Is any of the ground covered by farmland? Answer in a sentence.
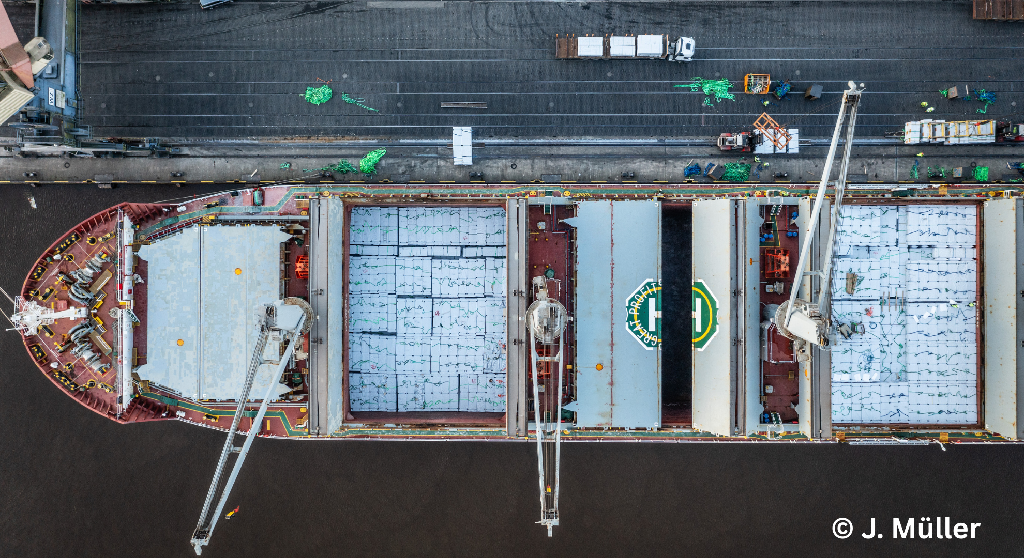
No, no farmland is visible.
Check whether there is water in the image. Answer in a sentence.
Yes, water shows up in the scene.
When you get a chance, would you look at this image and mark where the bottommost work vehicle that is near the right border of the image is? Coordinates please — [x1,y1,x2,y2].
[995,122,1024,142]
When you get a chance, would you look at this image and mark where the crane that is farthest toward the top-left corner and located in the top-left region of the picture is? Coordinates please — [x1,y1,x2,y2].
[0,0,179,158]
